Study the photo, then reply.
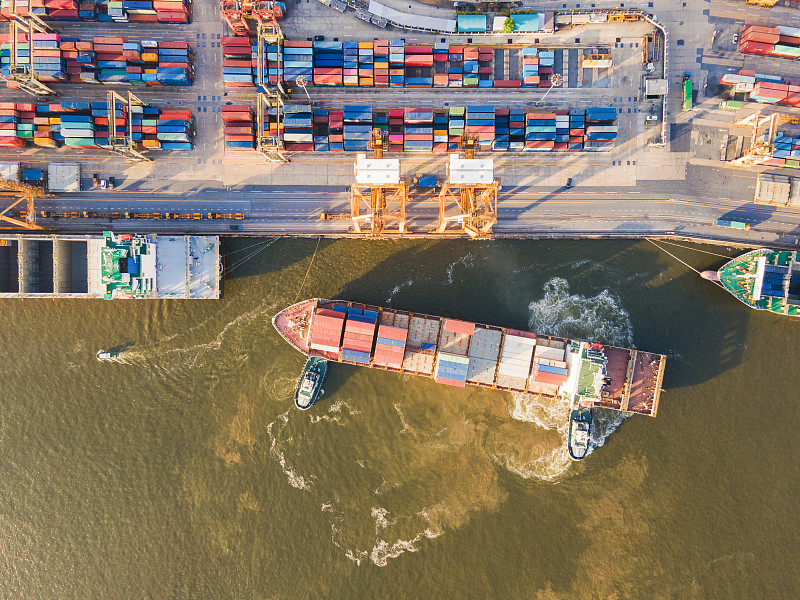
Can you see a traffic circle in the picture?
No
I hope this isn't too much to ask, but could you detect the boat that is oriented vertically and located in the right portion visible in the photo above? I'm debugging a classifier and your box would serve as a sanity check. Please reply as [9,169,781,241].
[568,404,593,462]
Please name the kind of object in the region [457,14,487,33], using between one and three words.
shed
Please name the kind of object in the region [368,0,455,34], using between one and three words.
building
